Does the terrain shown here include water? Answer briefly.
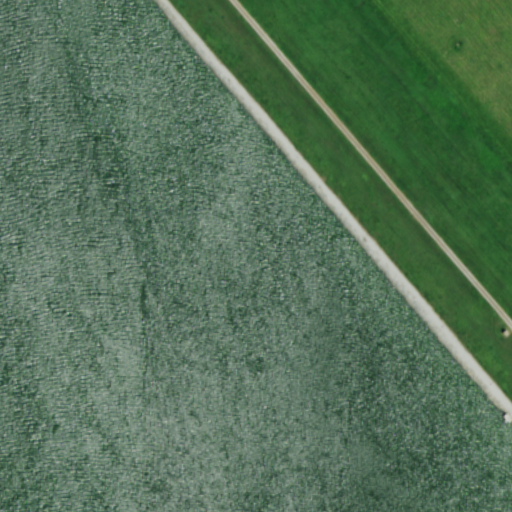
Yes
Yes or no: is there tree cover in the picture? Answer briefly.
No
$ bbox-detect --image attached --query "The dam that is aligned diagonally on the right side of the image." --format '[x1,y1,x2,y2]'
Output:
[155,0,512,414]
